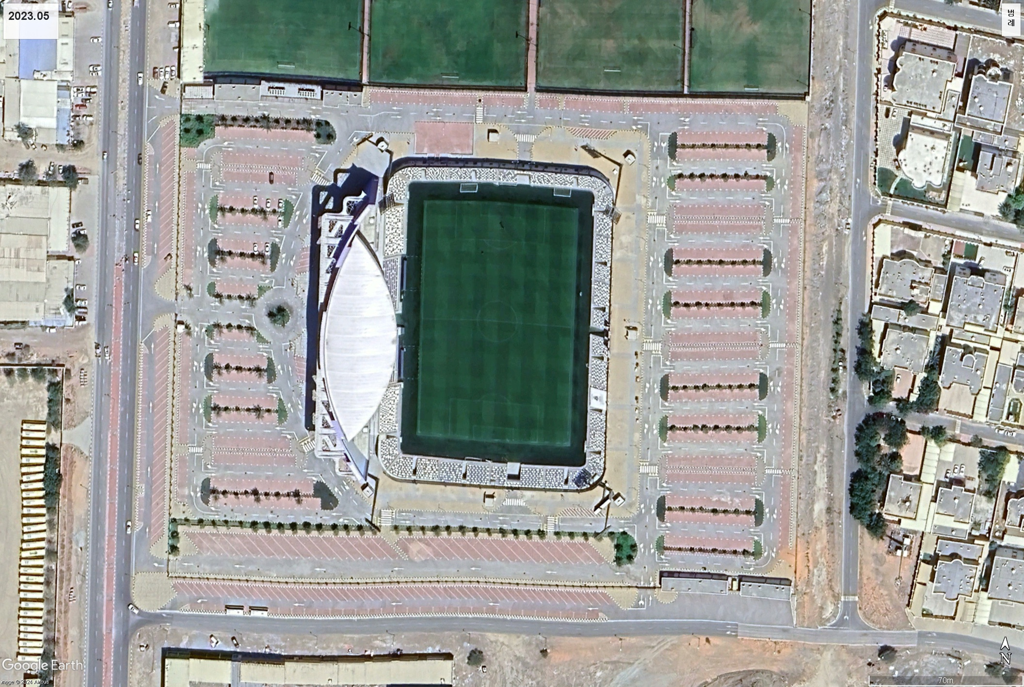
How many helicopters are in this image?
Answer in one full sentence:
There are no helicopters in this view.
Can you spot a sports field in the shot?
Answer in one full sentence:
Yes, I can see a sports field in this picture.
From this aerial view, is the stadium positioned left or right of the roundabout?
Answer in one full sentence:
The stadium can be seen on the right of the roundabout.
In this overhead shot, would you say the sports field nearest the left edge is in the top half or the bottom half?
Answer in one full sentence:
It is in the top half that the sports field nearest the left edge appears.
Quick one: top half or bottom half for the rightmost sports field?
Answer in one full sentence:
The top half of the photo is where the rightmost sports field is.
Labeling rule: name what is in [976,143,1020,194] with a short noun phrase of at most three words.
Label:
house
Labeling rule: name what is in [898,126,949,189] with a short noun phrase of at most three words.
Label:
house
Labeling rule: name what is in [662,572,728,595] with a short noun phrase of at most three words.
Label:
building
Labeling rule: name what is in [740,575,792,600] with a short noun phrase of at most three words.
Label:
building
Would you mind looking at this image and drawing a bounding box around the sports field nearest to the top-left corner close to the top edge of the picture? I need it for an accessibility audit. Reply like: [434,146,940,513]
[204,0,364,86]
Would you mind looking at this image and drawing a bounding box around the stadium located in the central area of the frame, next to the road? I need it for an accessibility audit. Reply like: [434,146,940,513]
[311,158,615,491]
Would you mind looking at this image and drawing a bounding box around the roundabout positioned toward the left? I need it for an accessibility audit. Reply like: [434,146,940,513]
[257,292,303,336]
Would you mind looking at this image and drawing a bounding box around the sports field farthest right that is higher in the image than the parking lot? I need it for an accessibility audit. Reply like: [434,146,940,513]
[689,0,810,98]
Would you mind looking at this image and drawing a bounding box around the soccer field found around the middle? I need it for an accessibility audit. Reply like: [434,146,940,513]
[405,184,591,467]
